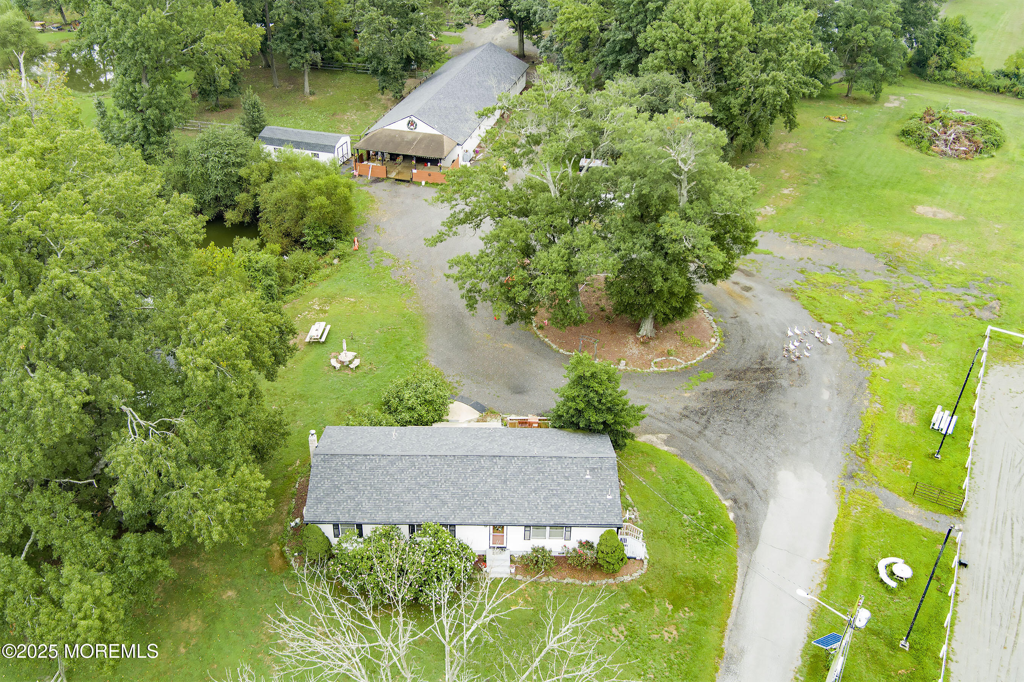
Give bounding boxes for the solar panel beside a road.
[811,631,842,666]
